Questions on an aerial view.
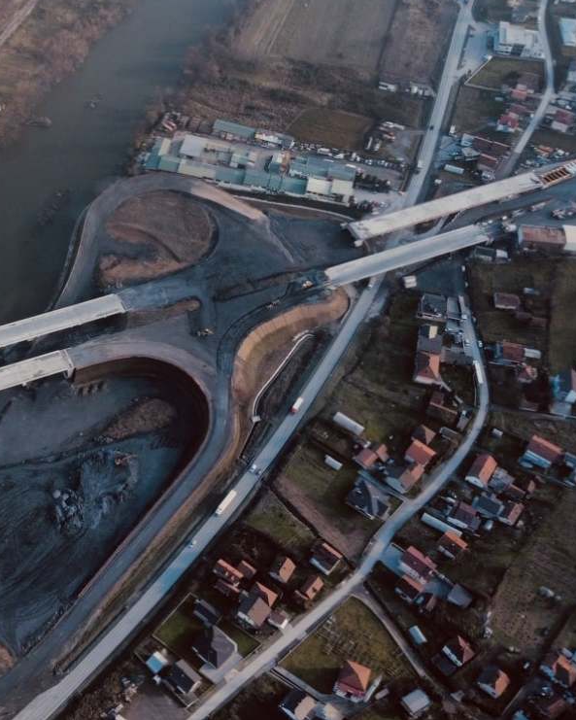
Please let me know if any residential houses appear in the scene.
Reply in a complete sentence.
Yes, a residential house appears in the view.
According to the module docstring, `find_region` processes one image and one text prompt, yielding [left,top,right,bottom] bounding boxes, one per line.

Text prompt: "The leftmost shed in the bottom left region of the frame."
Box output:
[147,651,166,673]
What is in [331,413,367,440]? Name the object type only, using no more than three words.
greenhouse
